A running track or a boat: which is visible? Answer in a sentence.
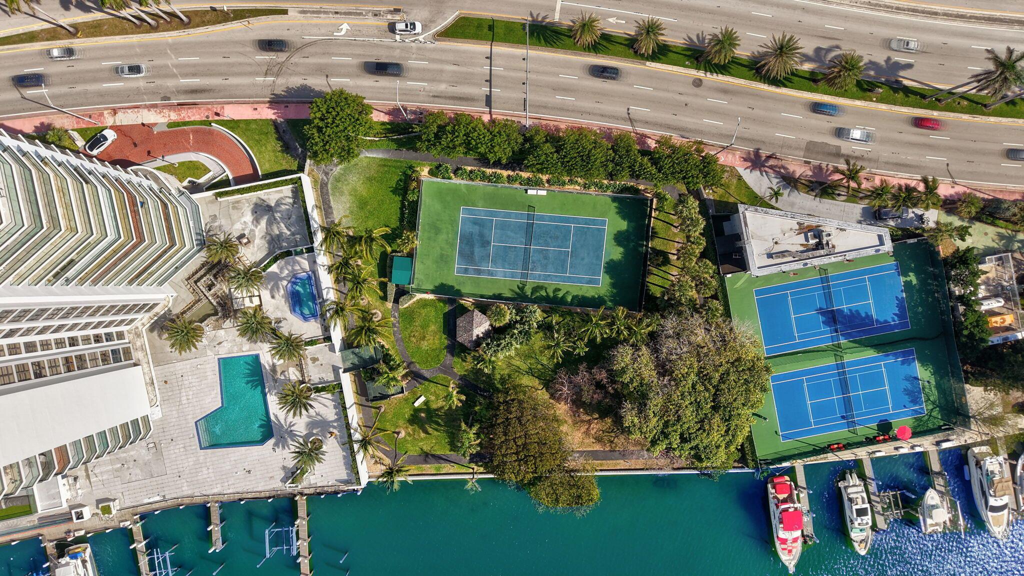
The one in the frame is a boat.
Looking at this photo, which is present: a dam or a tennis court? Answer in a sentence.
It is a tennis court that can be seen here.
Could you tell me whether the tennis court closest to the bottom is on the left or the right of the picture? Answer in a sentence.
You can find the tennis court closest to the bottom on the right side of the picture.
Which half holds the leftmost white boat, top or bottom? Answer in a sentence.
It is in the bottom half that the leftmost white boat appears.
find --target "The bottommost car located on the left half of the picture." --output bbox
[88,128,117,156]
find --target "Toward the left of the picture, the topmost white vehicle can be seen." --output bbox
[394,21,423,36]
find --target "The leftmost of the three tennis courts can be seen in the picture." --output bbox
[411,179,653,311]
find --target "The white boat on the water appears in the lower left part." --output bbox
[61,540,101,576]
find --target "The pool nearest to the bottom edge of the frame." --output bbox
[195,354,274,450]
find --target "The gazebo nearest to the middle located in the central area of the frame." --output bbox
[457,309,490,347]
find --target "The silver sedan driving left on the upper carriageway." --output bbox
[889,37,919,53]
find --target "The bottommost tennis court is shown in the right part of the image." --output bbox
[742,336,970,463]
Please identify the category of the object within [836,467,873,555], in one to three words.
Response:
boat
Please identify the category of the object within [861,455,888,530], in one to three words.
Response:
pier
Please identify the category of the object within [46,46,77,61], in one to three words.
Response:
car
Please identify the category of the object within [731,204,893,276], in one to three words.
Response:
building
